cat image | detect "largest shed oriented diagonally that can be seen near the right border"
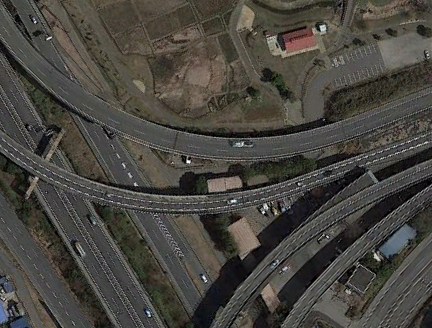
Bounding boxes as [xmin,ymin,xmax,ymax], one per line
[377,223,417,261]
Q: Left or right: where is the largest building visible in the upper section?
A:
right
